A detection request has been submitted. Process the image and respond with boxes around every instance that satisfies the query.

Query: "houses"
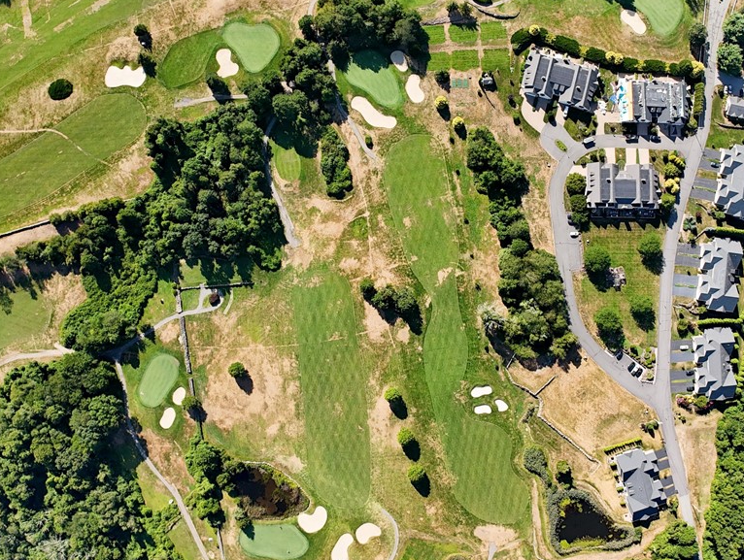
[713,144,744,220]
[517,49,599,114]
[610,81,690,138]
[611,444,666,522]
[688,327,741,401]
[583,165,659,218]
[692,239,744,312]
[722,99,744,125]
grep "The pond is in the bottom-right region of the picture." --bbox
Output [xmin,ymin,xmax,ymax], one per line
[558,501,625,543]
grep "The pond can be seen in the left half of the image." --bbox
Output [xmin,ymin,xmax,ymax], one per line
[230,467,304,517]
